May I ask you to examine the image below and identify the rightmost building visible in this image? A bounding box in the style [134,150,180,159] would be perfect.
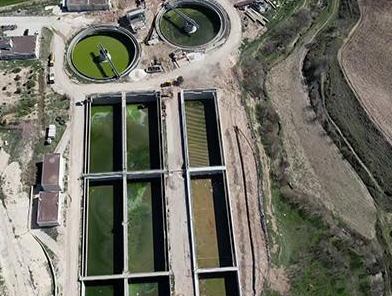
[125,10,149,35]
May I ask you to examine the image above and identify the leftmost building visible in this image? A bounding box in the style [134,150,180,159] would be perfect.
[0,34,40,62]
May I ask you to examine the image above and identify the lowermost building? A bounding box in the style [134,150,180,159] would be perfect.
[37,192,62,228]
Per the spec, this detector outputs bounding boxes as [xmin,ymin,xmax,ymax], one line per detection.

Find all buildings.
[125,10,149,35]
[41,154,63,191]
[62,0,111,12]
[37,192,62,228]
[0,34,40,62]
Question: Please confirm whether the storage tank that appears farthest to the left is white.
No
